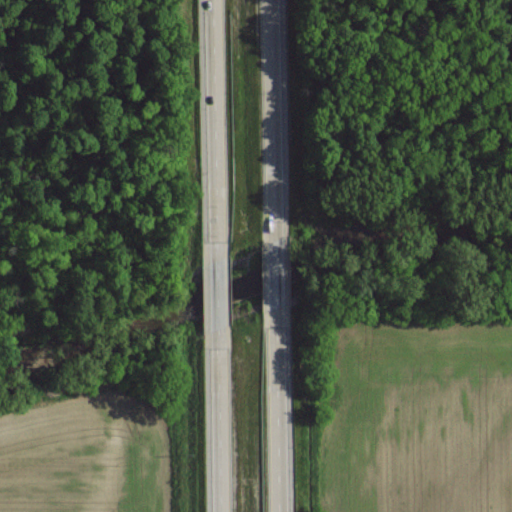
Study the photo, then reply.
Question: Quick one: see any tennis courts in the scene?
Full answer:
No, no tennis court is visible in the scene.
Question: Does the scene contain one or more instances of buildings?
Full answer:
No, I can't see a single building in this photo.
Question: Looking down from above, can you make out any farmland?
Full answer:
Yes, farmland shows up in the scene.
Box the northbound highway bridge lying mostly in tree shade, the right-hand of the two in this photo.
[262,243,292,328]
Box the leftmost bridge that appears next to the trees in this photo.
[202,242,232,348]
